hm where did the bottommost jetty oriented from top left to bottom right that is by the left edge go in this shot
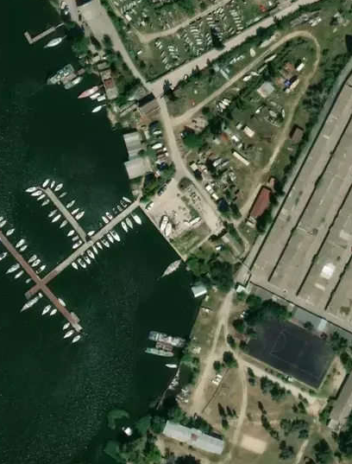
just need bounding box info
[0,232,84,335]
